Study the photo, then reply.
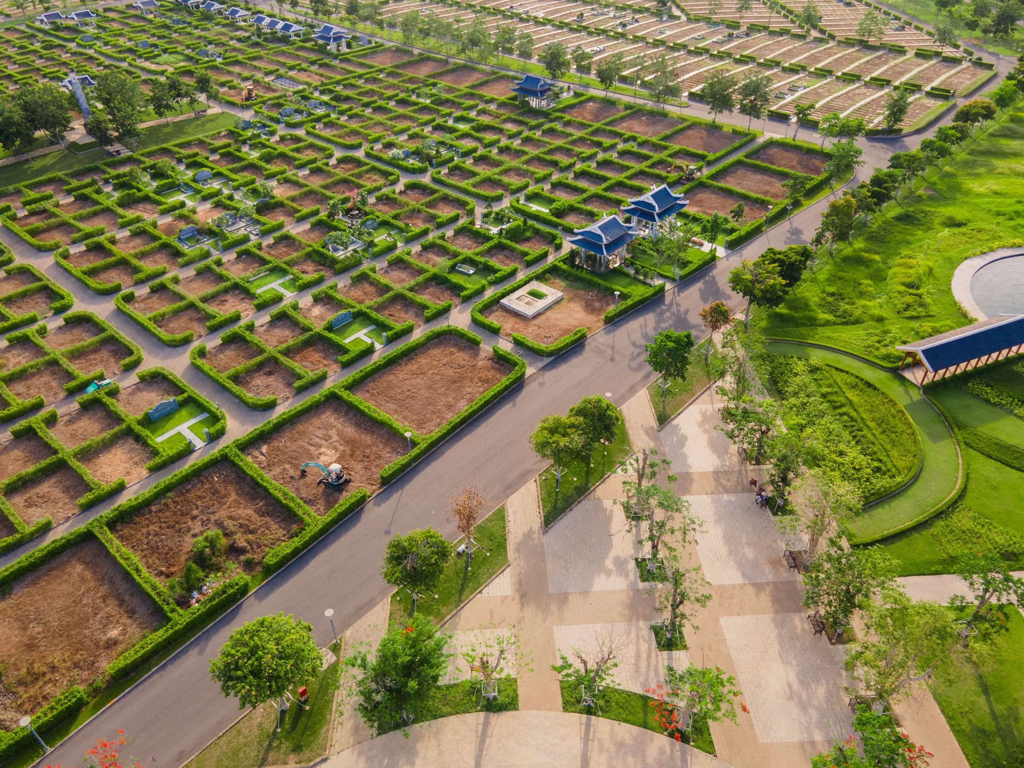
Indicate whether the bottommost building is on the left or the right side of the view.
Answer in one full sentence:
The bottommost building appears in the right half of the scene.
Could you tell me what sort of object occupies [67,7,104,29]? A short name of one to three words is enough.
building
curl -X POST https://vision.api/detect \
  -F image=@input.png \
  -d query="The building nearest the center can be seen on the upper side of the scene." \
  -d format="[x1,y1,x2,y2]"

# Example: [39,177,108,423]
[562,208,644,276]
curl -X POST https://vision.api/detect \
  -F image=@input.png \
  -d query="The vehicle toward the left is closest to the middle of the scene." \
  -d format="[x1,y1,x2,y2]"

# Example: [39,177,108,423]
[300,451,348,493]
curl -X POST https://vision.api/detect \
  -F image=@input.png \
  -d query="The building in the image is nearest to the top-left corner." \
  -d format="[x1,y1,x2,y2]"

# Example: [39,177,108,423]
[33,8,71,31]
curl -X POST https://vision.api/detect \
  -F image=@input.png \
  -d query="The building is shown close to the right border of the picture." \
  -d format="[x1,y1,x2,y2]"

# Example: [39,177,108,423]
[891,306,1024,386]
